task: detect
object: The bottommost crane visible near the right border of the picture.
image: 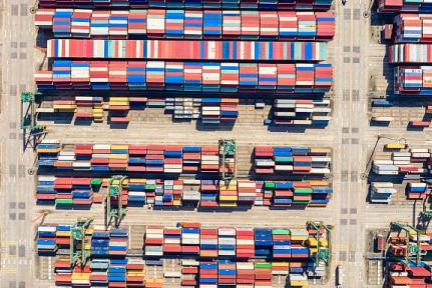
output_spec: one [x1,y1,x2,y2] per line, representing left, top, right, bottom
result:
[387,218,421,268]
